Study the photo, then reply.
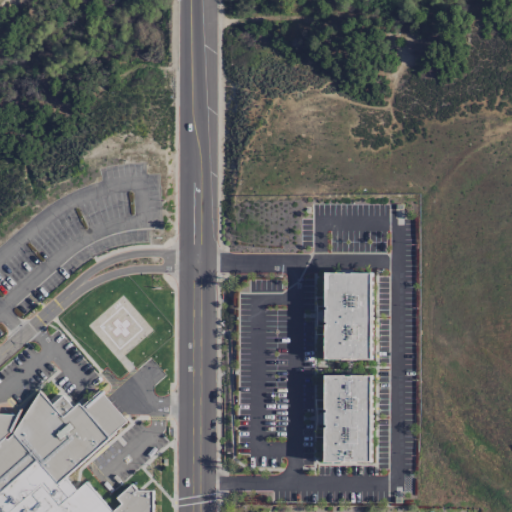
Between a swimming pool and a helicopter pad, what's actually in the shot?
helicopter pad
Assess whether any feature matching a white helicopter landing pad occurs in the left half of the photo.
Yes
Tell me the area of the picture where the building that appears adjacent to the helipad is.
bottom left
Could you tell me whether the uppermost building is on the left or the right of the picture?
right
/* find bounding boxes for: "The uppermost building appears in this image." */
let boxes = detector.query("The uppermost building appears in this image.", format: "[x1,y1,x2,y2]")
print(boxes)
[324,272,375,360]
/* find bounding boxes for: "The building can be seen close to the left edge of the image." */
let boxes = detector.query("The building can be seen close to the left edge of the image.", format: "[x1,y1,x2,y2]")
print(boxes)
[0,392,130,512]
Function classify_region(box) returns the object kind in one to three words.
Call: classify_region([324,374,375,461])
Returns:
building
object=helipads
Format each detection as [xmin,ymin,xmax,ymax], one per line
[90,295,154,372]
